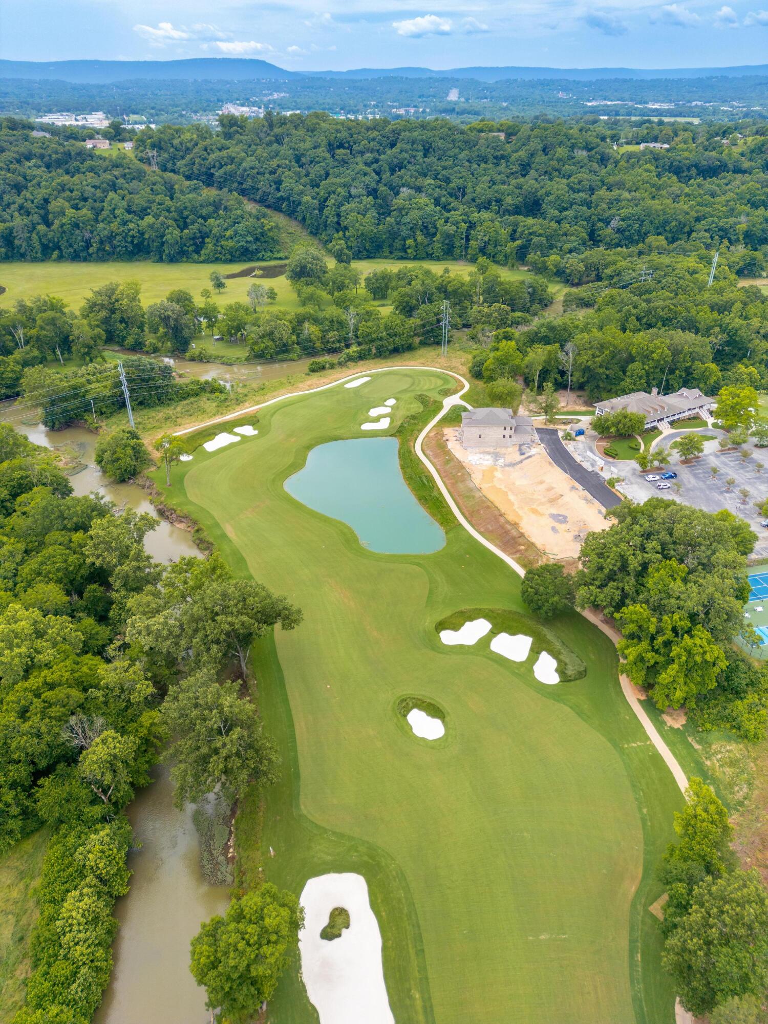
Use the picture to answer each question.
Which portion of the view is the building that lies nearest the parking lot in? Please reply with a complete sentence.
The building that lies nearest the parking lot is in the right part of the image.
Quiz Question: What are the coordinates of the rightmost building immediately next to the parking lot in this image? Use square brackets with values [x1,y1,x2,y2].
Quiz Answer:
[593,380,717,439]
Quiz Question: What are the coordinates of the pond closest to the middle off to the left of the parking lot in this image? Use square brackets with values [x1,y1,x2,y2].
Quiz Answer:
[283,437,446,554]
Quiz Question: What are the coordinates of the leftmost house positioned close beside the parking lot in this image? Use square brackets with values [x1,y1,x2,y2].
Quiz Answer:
[459,402,532,446]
